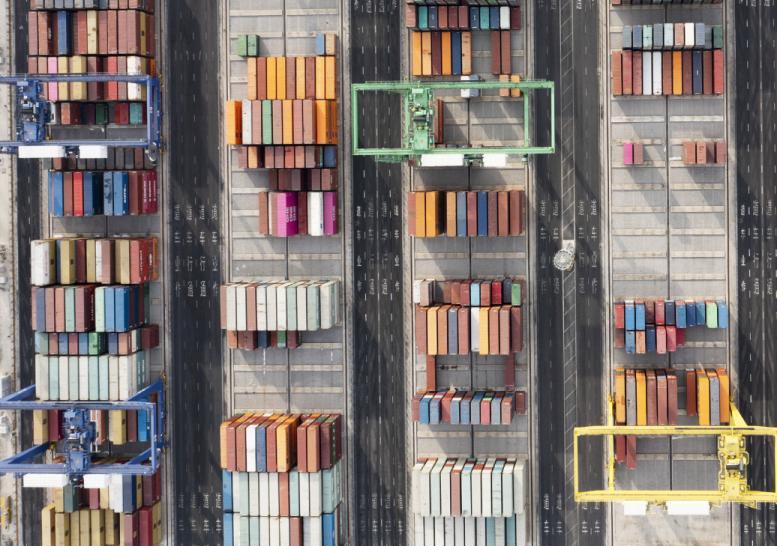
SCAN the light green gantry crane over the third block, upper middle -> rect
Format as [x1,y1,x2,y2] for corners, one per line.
[351,74,555,177]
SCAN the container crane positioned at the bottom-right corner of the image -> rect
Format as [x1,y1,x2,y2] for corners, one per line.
[574,384,777,516]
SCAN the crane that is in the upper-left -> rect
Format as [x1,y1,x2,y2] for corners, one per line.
[0,68,166,170]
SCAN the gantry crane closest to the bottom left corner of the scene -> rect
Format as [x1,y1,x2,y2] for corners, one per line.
[0,360,166,486]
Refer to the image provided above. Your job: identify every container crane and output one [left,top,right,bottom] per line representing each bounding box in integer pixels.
[574,384,777,516]
[0,68,166,170]
[0,360,166,486]
[351,74,555,177]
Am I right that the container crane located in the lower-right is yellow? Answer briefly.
Yes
